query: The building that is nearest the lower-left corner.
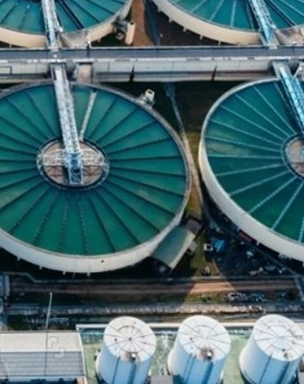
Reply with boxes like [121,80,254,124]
[0,330,88,384]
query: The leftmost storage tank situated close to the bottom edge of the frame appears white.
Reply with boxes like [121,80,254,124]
[99,322,153,384]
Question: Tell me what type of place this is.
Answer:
industrial area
